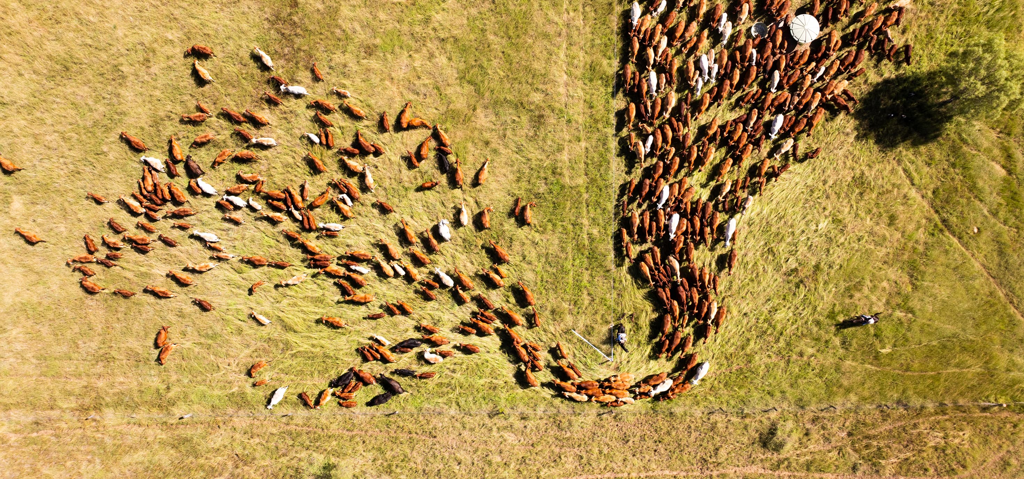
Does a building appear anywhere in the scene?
No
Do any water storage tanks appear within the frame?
Yes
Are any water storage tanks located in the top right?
Yes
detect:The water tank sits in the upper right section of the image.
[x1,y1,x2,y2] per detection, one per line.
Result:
[784,13,820,47]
